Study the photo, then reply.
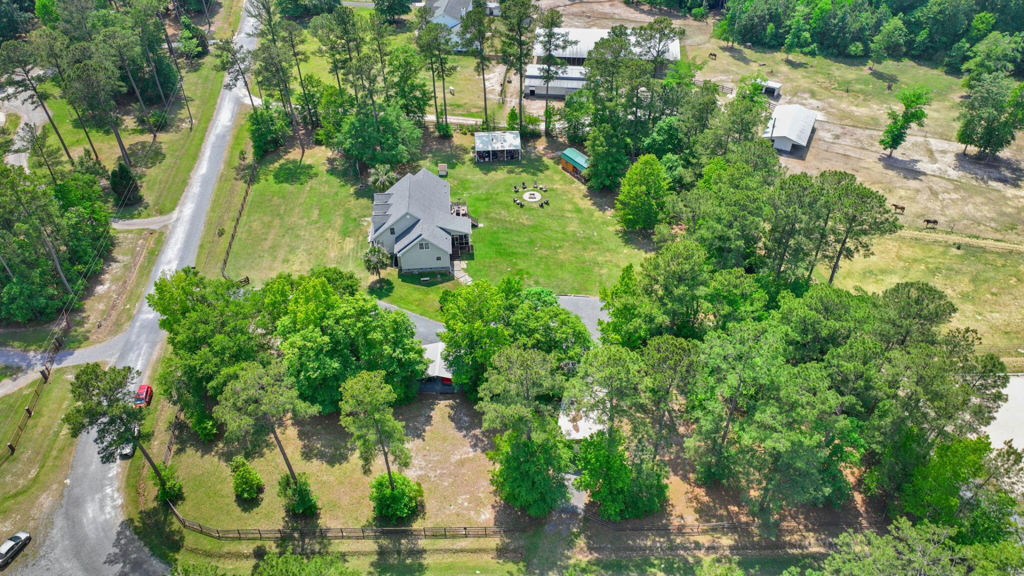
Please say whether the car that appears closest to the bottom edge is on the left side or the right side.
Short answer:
left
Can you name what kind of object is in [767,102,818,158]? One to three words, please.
barn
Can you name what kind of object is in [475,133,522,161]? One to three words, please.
shed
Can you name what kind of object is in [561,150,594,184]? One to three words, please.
building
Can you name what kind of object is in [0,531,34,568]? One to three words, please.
car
